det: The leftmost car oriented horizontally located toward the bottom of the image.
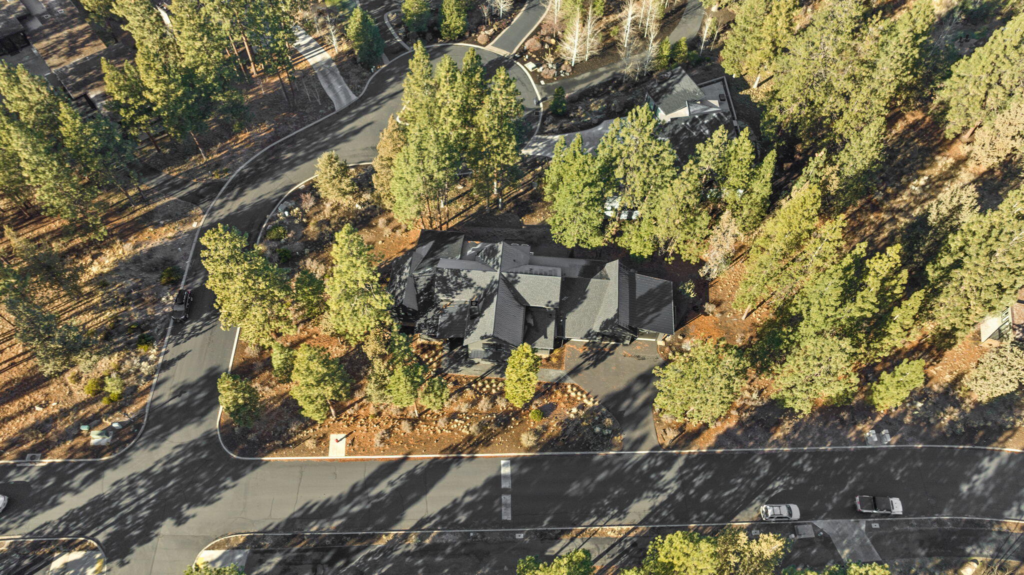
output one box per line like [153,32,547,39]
[761,503,804,523]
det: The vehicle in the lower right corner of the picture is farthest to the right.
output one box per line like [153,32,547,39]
[856,497,907,517]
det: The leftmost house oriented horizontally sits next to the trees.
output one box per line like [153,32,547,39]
[384,234,679,376]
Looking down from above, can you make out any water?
No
